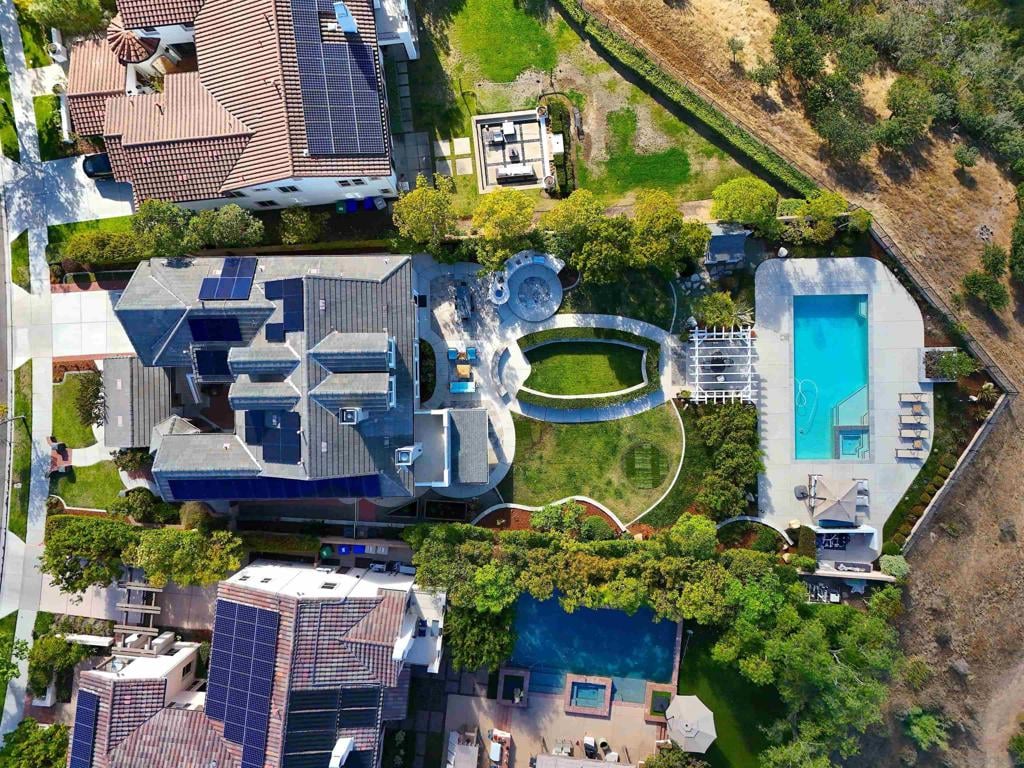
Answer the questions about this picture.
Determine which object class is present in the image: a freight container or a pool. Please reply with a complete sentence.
It is a pool that can be seen here.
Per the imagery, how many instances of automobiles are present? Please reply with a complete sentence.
Altogether the scene contains 1 automobile.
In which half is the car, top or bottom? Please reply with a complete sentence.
It is in the top half that the car appears.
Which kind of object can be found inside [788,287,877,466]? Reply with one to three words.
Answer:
swimming pool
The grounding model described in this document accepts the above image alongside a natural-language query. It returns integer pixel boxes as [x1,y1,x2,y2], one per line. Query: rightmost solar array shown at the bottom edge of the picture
[204,600,277,768]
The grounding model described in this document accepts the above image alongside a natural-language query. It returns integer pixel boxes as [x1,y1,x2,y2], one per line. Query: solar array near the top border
[292,0,385,153]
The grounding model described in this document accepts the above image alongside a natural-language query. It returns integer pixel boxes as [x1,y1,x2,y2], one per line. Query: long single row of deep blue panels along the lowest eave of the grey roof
[167,479,380,501]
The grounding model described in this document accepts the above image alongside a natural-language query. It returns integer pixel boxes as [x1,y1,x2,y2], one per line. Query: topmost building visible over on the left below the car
[103,256,489,503]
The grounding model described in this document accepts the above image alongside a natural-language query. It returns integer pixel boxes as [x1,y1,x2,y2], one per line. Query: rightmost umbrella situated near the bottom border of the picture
[665,694,717,753]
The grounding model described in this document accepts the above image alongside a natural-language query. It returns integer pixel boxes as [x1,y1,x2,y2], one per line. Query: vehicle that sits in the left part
[80,149,114,183]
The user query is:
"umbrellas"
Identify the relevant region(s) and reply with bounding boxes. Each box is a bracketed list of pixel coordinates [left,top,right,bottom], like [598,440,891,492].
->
[665,694,717,753]
[812,480,858,521]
